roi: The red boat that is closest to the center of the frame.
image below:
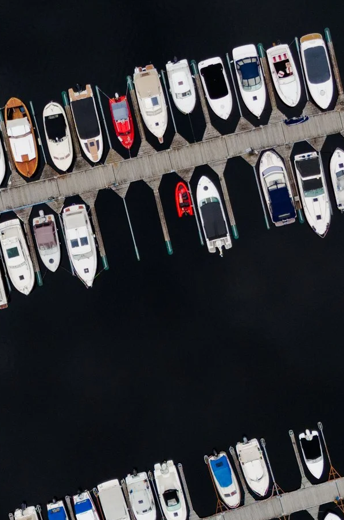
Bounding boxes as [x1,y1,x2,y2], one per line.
[174,183,193,218]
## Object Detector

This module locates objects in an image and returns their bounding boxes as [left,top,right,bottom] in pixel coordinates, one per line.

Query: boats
[236,433,271,497]
[266,42,302,107]
[33,209,62,272]
[298,33,334,109]
[44,103,75,170]
[0,218,34,294]
[165,55,197,114]
[108,93,134,149]
[299,428,326,480]
[71,488,102,520]
[154,459,186,520]
[233,45,267,117]
[62,207,99,288]
[70,83,104,162]
[47,496,71,520]
[197,57,233,119]
[5,98,39,177]
[126,467,156,520]
[97,480,132,520]
[260,152,297,227]
[133,65,169,143]
[15,499,42,520]
[208,447,241,509]
[327,148,344,208]
[174,183,193,218]
[196,176,230,255]
[292,153,331,235]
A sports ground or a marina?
marina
